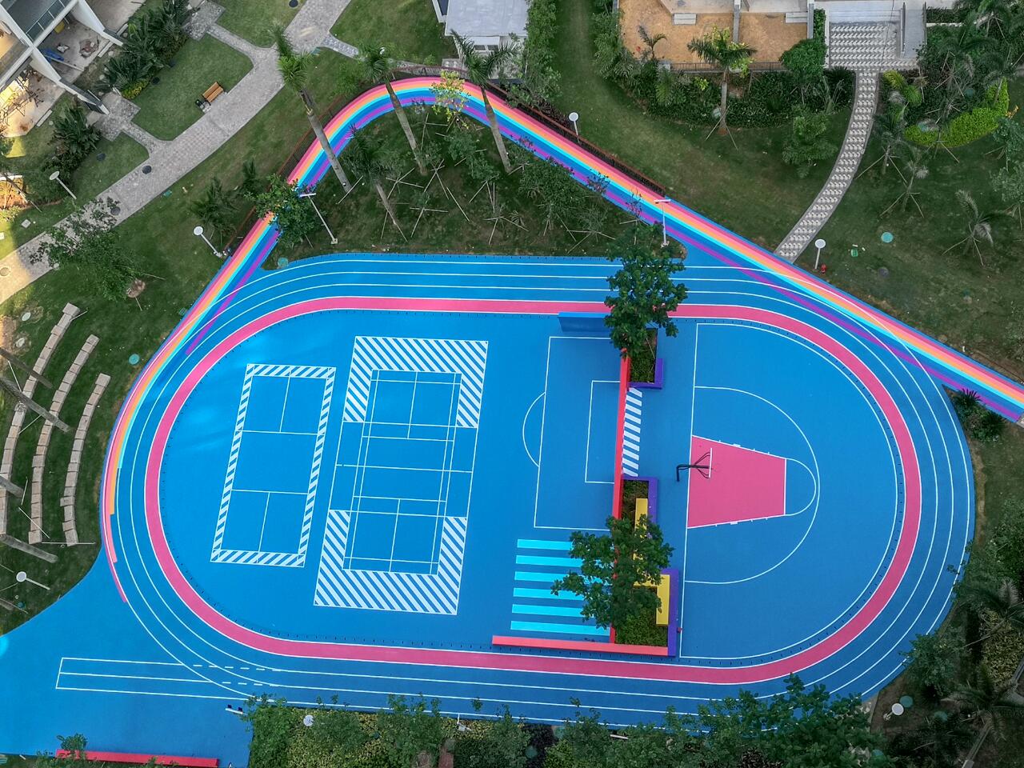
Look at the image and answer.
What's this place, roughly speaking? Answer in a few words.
sports ground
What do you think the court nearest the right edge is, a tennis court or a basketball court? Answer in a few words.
basketball court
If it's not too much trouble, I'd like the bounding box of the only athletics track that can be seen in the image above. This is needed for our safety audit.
[101,252,973,736]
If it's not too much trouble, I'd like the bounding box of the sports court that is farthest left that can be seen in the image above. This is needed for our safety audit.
[210,364,335,567]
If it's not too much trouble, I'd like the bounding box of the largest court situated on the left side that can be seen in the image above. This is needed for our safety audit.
[314,337,488,615]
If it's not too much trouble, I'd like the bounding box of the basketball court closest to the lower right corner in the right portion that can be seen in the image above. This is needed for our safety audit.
[681,324,898,664]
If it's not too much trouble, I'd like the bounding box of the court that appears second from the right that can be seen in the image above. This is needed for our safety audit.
[522,336,621,531]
